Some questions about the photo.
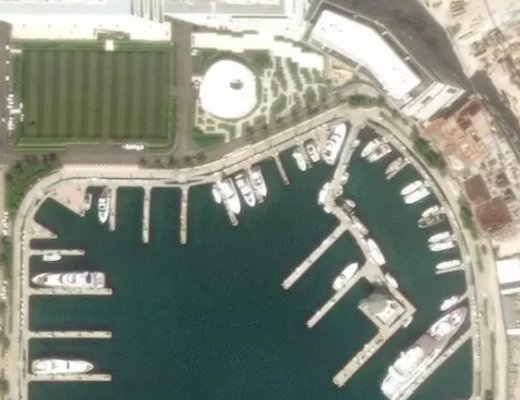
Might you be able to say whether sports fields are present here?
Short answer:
Yes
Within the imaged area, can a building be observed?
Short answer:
Yes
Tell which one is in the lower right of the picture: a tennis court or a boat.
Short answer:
boat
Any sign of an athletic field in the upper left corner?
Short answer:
Yes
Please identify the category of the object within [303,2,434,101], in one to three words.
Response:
building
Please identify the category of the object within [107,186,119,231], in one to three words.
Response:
pier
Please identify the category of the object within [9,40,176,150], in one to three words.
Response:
sports field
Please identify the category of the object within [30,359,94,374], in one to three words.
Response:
boat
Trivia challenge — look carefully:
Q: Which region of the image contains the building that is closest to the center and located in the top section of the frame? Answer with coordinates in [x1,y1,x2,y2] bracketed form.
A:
[199,60,258,117]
